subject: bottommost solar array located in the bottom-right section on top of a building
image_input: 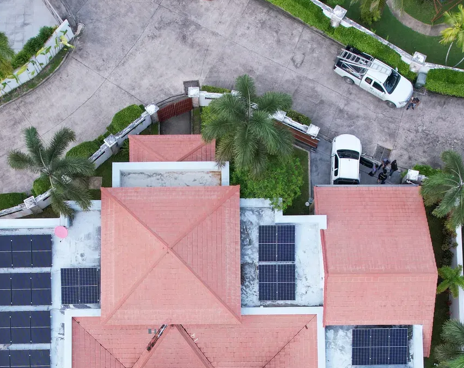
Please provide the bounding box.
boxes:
[352,328,409,365]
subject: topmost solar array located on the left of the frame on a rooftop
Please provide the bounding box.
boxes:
[0,234,53,267]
